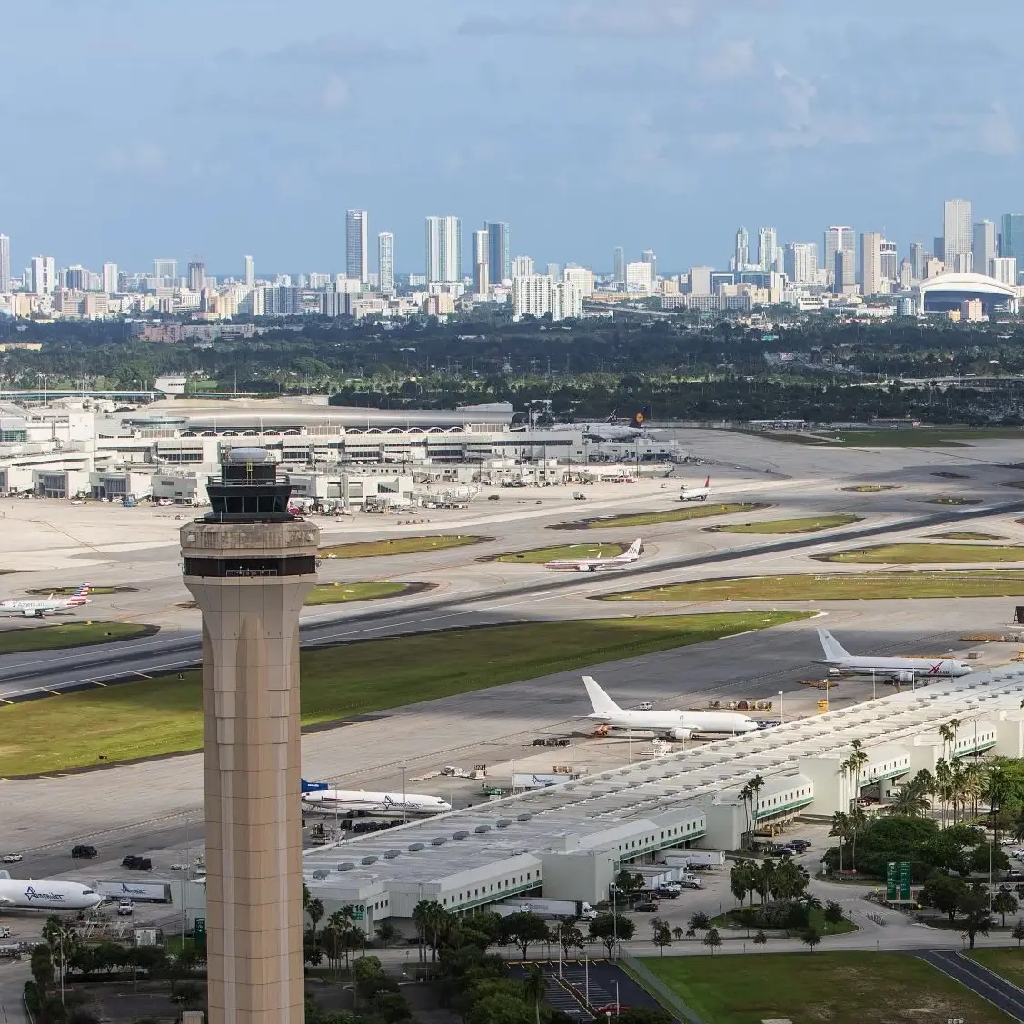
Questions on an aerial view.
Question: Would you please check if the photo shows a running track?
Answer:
No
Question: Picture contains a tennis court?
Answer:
No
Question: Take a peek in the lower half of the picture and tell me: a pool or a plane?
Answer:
plane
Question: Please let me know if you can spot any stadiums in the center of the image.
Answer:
No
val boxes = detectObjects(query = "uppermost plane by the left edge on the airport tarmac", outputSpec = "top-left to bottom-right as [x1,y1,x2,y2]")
[3,587,100,618]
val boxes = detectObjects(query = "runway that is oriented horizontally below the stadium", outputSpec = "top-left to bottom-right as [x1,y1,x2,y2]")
[0,496,1024,700]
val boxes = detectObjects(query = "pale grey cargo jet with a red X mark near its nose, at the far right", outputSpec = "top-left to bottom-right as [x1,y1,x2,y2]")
[812,628,970,683]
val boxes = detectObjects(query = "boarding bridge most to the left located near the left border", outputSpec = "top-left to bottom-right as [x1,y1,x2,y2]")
[22,483,42,496]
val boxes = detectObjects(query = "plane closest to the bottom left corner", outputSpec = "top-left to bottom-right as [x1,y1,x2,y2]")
[0,873,99,918]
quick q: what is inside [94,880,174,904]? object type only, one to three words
trailer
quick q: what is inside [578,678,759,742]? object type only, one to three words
airplane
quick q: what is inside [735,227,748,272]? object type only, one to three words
building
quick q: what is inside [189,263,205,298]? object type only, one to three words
building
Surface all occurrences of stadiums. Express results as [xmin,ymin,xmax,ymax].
[906,273,1019,315]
